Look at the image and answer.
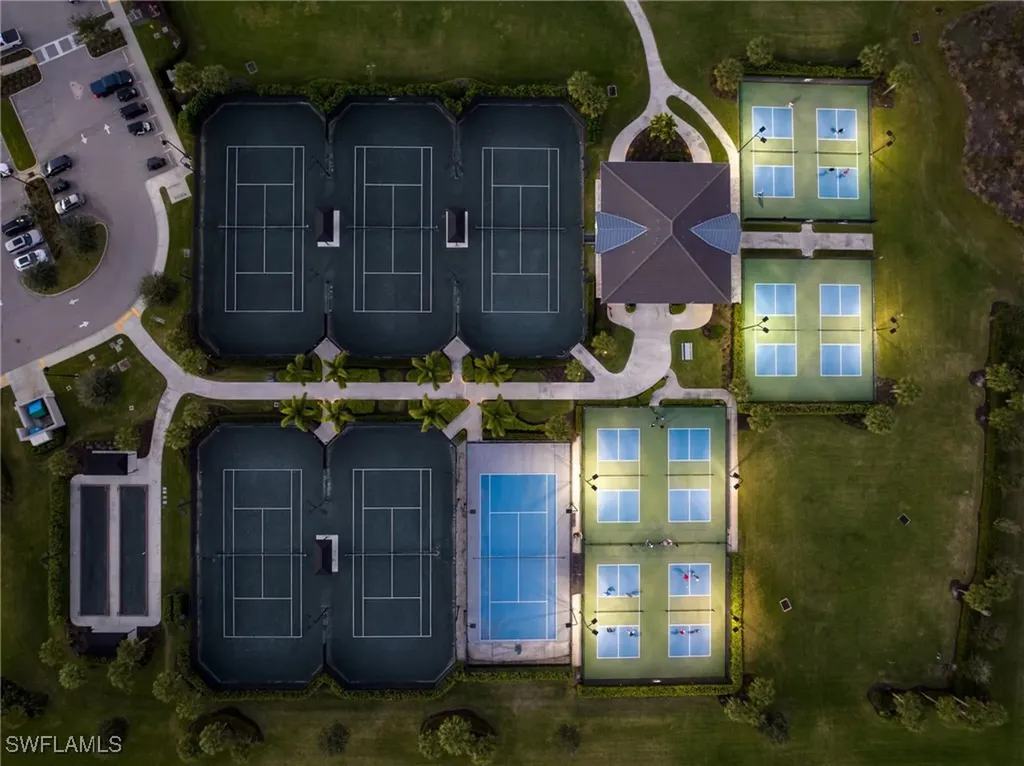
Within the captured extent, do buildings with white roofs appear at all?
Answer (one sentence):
No, no building with a white roof is visible in the view.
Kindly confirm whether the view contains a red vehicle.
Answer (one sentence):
No, no red vehicle is visible in the view.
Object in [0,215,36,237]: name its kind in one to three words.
car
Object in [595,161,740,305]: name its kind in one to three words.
building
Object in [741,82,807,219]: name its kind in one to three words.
sports court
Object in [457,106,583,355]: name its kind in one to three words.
tennis court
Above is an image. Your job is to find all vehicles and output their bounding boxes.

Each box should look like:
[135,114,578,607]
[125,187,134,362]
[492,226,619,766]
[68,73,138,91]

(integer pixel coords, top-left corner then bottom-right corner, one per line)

[49,177,73,195]
[3,231,44,254]
[89,71,135,98]
[40,154,74,178]
[0,215,36,237]
[114,85,140,104]
[126,120,154,138]
[0,30,18,53]
[144,155,169,172]
[12,248,50,270]
[117,101,150,122]
[55,193,87,215]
